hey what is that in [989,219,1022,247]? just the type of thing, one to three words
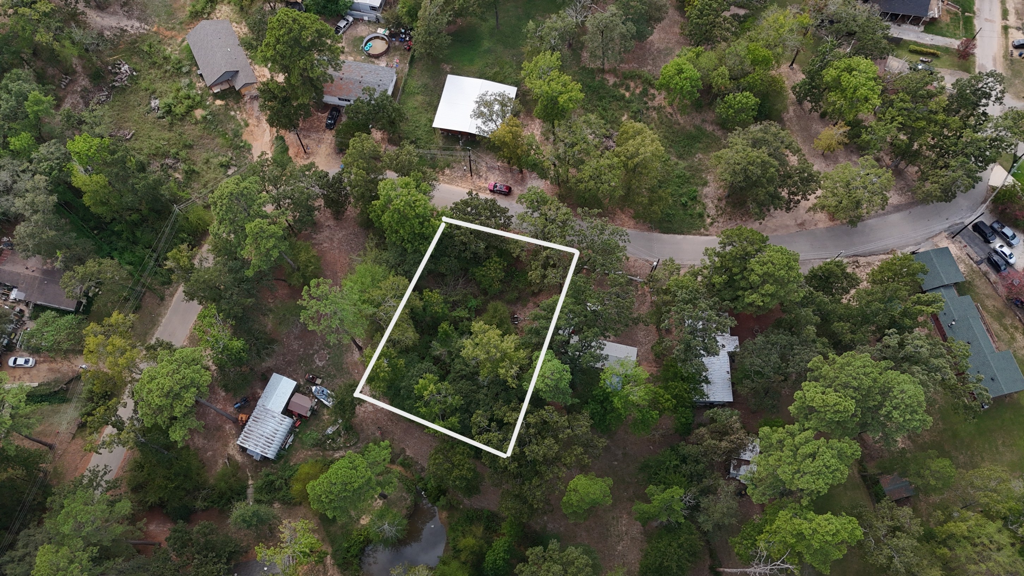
truck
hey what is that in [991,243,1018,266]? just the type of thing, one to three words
car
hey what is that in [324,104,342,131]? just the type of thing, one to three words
vehicle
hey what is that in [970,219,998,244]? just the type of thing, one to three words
car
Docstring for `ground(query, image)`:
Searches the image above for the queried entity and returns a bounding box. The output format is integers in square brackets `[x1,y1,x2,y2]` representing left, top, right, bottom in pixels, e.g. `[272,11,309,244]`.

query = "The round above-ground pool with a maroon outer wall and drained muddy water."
[362,34,391,60]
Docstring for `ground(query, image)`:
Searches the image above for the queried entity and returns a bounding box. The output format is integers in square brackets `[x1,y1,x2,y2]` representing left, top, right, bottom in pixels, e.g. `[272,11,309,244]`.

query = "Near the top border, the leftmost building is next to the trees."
[186,20,258,102]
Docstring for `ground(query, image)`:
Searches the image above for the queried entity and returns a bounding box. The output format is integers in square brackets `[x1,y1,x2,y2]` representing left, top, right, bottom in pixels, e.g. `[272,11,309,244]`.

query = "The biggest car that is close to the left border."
[7,355,39,368]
